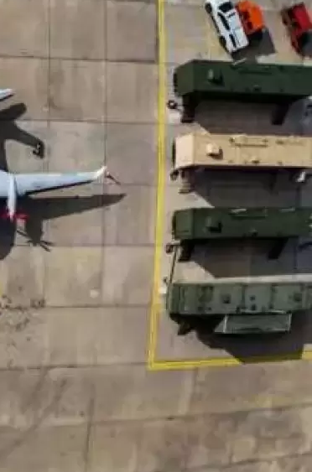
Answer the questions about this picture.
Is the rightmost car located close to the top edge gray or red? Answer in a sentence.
The rightmost car located close to the top edge looks red in the image.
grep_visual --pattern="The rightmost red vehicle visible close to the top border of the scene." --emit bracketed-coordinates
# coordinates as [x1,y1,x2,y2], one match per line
[281,2,312,61]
